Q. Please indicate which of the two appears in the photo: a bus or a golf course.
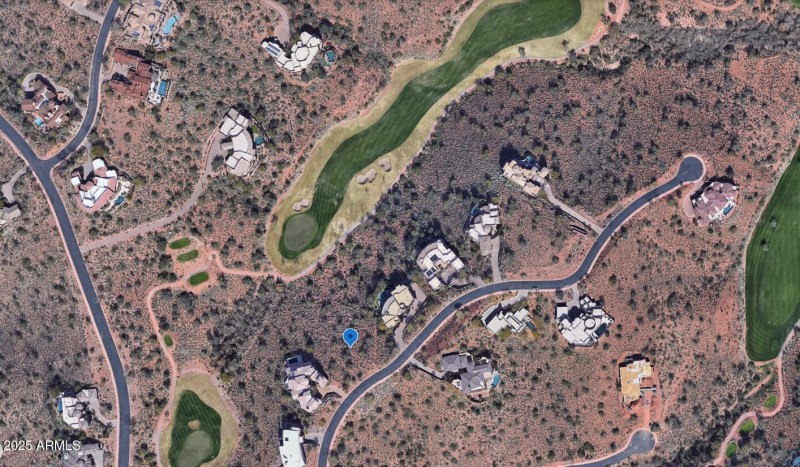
golf course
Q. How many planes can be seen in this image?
0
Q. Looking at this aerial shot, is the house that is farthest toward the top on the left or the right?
left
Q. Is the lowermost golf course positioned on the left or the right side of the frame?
left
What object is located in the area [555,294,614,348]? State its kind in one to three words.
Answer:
house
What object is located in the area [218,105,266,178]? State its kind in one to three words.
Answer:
house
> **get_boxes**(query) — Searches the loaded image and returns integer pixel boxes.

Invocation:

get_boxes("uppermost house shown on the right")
[501,155,552,198]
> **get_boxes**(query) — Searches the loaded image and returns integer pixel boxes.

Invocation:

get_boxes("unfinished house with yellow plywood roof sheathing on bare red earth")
[619,357,656,408]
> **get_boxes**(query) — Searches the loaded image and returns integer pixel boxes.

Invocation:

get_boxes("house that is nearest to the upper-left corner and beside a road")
[20,78,73,129]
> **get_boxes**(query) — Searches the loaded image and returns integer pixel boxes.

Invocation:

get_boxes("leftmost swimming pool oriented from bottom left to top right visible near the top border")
[162,16,180,34]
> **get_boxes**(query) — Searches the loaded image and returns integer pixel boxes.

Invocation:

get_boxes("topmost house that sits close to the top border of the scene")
[123,0,184,44]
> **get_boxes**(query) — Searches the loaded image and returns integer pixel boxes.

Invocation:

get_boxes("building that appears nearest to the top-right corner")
[690,180,739,228]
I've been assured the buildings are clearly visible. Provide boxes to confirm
[261,30,324,77]
[69,156,131,215]
[416,237,466,290]
[555,294,614,348]
[690,180,739,228]
[440,351,501,397]
[109,48,166,103]
[20,78,73,129]
[501,155,552,198]
[285,353,330,412]
[0,202,23,226]
[619,357,656,408]
[57,387,100,428]
[123,0,184,44]
[380,283,416,330]
[466,202,502,258]
[62,442,101,467]
[218,105,266,178]
[278,426,307,467]
[484,306,536,336]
